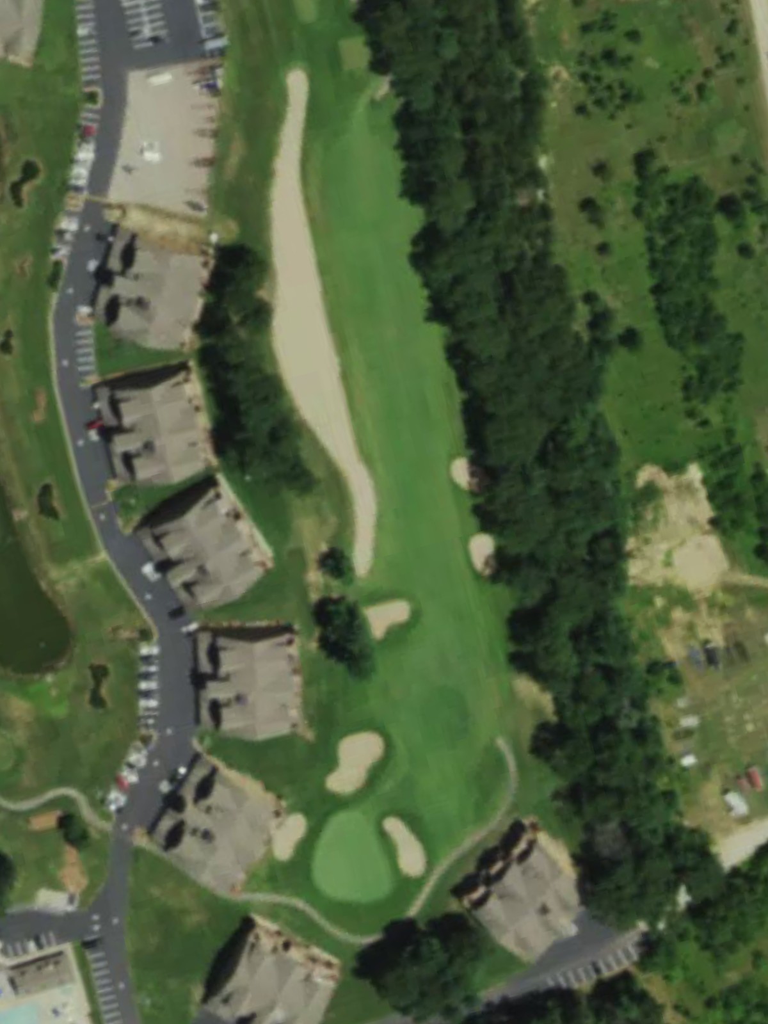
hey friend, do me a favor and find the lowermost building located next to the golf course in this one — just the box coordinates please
[204,924,340,1024]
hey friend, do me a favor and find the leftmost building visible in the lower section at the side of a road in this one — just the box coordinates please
[9,952,77,1003]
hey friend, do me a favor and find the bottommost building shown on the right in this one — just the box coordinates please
[459,835,593,968]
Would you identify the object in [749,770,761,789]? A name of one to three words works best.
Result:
vehicle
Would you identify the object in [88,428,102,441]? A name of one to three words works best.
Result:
vehicle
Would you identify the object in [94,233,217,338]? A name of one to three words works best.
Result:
building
